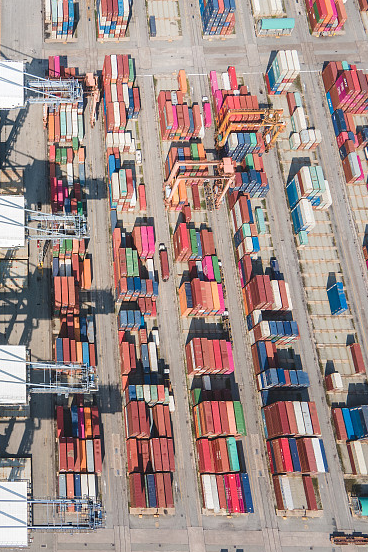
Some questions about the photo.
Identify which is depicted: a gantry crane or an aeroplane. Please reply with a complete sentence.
The one in the frame is a gantry crane.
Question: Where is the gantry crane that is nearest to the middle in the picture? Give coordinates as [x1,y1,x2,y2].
[163,158,233,205]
